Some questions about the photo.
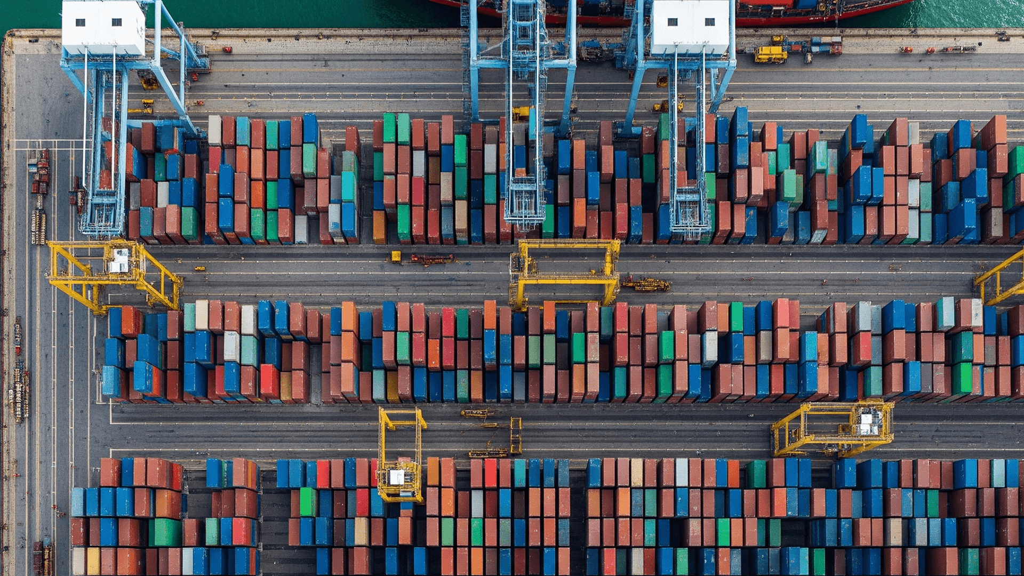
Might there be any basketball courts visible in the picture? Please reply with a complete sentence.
No, this view has no basketball court in it.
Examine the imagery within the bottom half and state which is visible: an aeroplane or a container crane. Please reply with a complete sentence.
The feature located within the bottom half is a container crane.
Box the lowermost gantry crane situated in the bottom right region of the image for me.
[772,400,897,460]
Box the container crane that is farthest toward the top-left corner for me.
[52,0,217,240]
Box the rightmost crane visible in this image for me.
[977,238,1024,307]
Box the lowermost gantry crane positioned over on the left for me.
[374,401,434,507]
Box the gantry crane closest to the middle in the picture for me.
[510,235,618,316]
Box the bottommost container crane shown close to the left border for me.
[48,239,184,317]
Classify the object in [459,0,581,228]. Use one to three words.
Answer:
container crane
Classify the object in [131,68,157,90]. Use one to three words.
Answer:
work vehicle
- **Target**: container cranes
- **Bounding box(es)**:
[48,239,184,317]
[977,238,1024,307]
[52,0,217,240]
[459,0,581,228]
[374,401,434,507]
[605,0,740,243]
[772,400,897,460]
[510,235,618,316]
